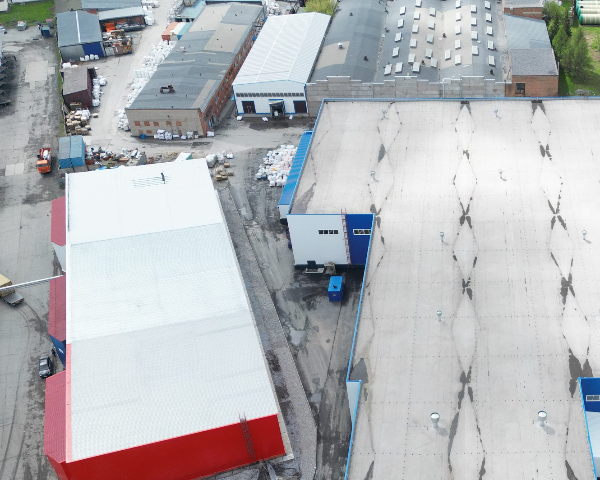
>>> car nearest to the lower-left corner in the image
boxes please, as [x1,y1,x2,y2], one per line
[34,358,54,376]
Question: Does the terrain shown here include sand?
No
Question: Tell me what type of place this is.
industrial area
